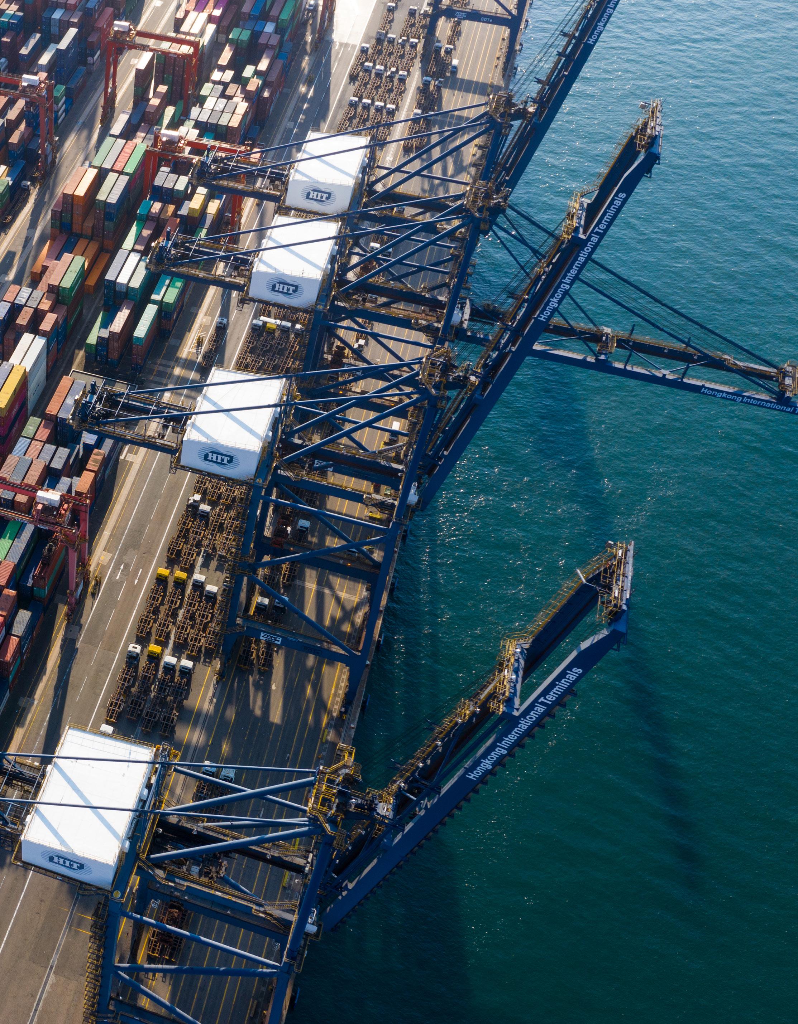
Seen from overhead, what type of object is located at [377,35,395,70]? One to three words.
vehicle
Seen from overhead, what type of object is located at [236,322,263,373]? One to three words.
truck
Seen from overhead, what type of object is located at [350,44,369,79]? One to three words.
vehicle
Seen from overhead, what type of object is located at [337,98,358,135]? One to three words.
truck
